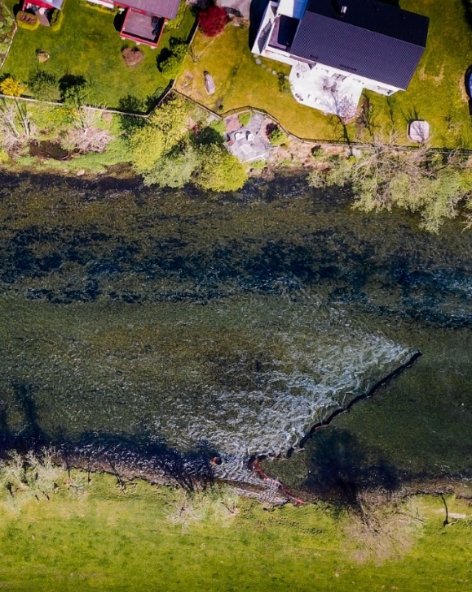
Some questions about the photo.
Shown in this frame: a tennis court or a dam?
dam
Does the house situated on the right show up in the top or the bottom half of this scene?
top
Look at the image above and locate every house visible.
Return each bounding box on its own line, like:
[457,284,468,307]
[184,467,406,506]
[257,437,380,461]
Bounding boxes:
[21,0,66,11]
[251,0,429,98]
[89,0,182,57]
